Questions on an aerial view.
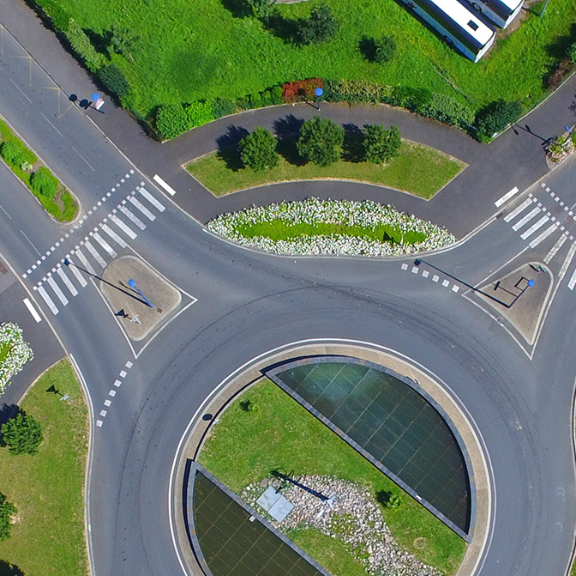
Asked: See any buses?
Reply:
Yes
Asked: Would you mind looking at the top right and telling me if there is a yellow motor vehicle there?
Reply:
No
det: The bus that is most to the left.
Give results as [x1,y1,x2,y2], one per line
[397,0,497,59]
